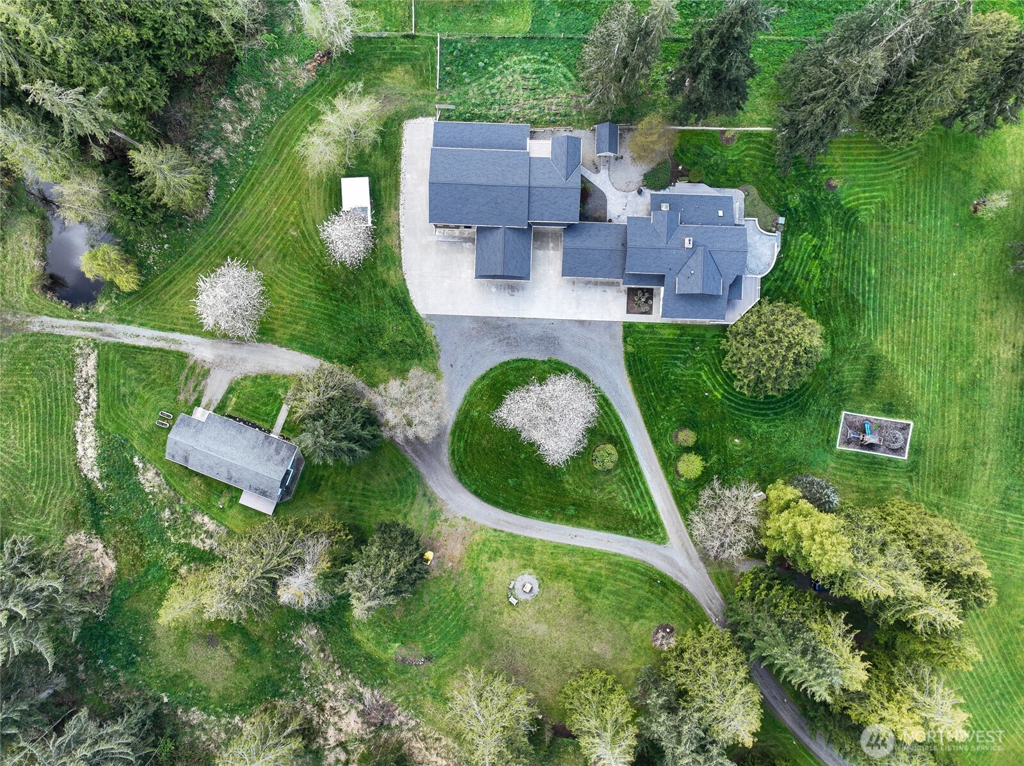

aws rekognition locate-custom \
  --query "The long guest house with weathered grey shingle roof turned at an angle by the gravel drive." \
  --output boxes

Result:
[166,407,306,515]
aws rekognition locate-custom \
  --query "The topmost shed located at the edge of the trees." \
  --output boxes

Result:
[596,122,619,158]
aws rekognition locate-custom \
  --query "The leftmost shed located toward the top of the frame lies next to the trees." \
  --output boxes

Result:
[341,177,374,228]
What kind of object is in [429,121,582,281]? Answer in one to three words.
building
